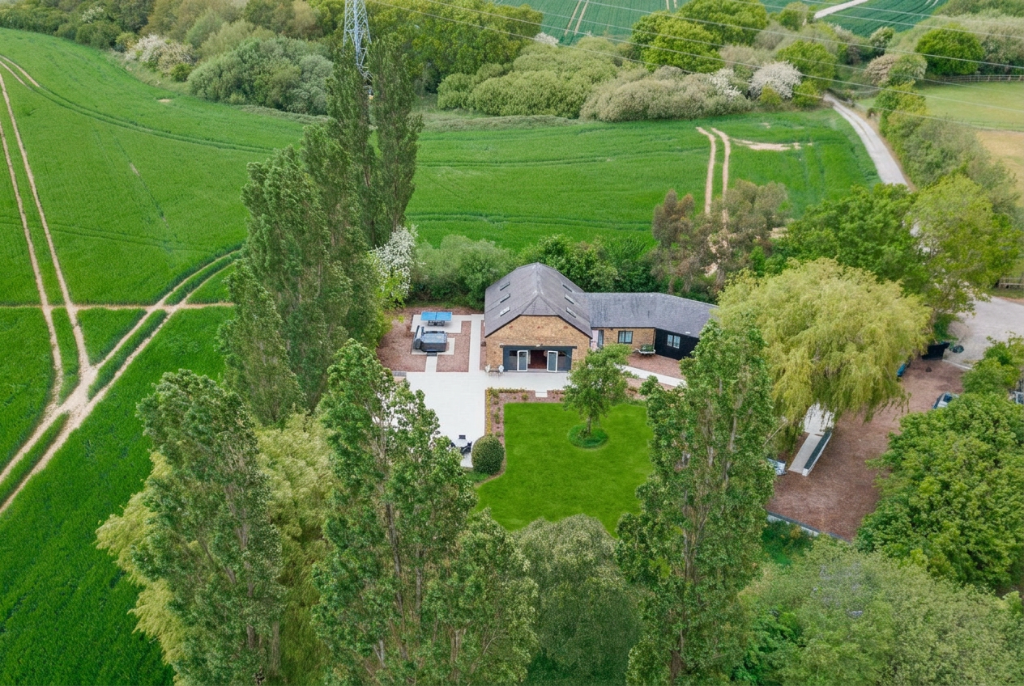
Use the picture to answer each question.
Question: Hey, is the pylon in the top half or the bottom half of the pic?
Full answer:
You can find the pylon in the top half.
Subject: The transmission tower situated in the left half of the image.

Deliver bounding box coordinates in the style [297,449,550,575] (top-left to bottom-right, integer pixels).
[342,0,373,86]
